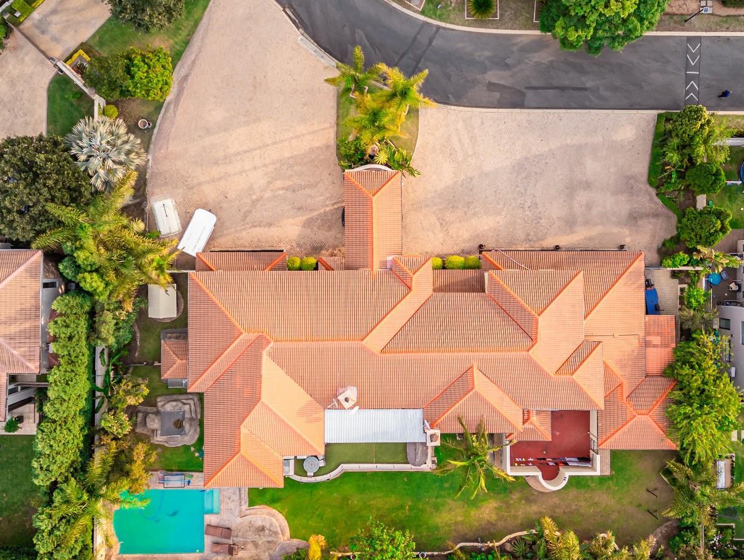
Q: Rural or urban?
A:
urban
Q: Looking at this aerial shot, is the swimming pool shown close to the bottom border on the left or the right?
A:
left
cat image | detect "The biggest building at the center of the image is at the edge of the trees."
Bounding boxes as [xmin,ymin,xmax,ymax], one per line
[160,162,678,489]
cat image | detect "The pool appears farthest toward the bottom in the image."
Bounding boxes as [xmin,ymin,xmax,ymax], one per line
[110,487,221,557]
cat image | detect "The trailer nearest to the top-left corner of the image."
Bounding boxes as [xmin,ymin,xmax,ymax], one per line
[152,191,183,235]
